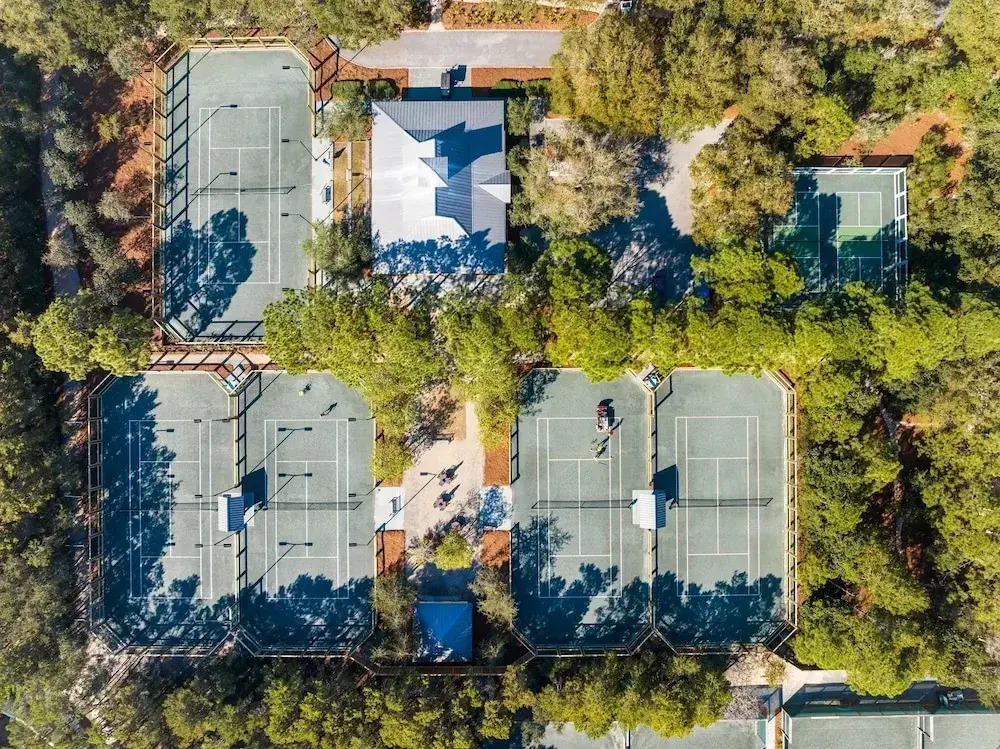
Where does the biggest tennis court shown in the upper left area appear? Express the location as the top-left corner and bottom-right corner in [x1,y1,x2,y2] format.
[167,50,313,340]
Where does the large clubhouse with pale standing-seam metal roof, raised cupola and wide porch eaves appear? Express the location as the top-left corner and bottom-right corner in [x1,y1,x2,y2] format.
[371,100,512,274]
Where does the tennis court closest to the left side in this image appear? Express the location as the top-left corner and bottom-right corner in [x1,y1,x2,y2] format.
[104,376,238,645]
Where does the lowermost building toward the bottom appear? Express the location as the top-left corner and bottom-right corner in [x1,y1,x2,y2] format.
[414,596,471,659]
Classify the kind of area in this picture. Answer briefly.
sports ground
